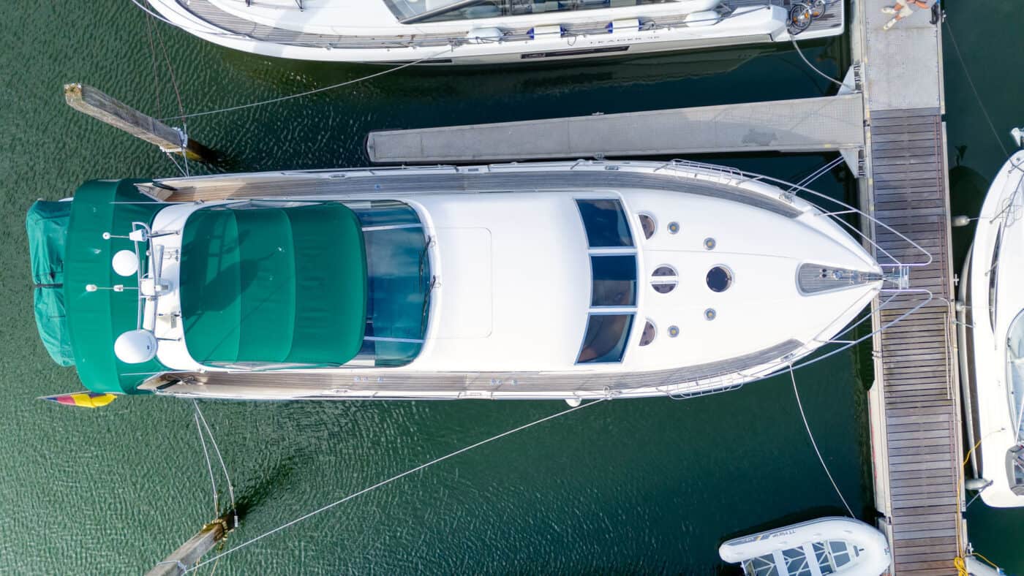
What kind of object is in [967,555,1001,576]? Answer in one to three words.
pier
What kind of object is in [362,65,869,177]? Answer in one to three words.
pier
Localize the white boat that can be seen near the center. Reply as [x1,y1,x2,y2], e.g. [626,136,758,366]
[36,158,934,408]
